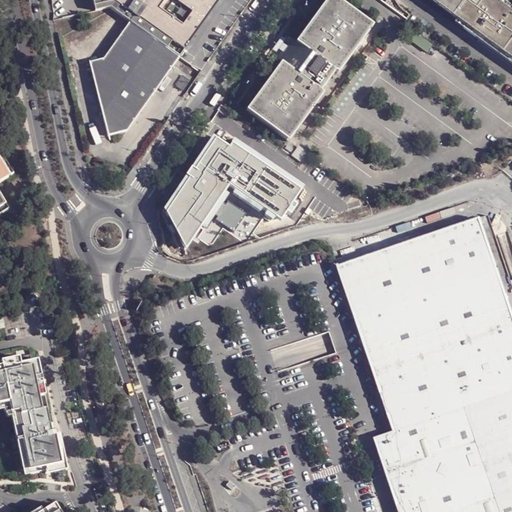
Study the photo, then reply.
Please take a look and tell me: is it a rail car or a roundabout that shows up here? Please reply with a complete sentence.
There is a roundabout in the scene.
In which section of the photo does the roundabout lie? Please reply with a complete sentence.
Look in the left portion of the view to spot the roundabout.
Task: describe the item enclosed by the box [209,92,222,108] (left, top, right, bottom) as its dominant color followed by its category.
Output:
white vehicle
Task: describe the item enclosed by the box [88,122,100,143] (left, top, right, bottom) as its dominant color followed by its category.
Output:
white vehicle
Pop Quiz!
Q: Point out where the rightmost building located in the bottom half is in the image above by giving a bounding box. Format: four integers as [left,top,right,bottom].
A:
[336,216,512,512]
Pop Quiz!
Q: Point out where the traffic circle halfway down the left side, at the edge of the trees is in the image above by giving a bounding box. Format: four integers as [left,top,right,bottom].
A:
[72,196,152,270]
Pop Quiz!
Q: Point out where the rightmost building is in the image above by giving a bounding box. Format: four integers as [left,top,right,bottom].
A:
[428,0,512,64]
